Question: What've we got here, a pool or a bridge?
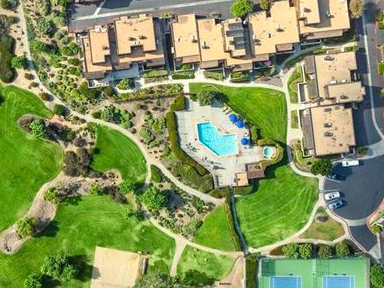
pool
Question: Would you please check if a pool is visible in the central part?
Yes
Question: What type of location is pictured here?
residential area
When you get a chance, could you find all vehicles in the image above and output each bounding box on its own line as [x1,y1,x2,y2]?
[329,199,344,208]
[327,173,342,180]
[341,160,360,167]
[324,191,338,199]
